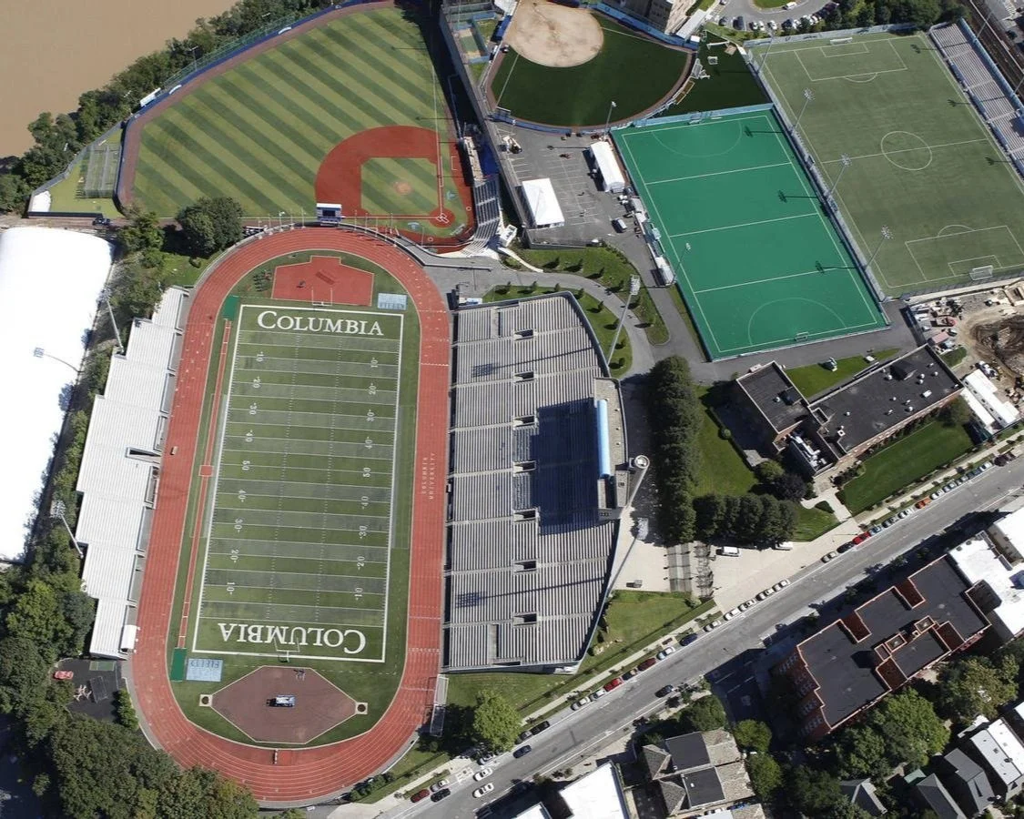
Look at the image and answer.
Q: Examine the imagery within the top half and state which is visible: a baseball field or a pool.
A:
baseball field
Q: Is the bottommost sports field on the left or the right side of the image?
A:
left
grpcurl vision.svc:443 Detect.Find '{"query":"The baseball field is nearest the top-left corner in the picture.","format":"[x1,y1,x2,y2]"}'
[117,0,477,252]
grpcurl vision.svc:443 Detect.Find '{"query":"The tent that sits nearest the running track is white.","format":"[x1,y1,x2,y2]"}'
[521,178,564,231]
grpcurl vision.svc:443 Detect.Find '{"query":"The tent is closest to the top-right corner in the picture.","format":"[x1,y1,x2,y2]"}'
[589,142,624,196]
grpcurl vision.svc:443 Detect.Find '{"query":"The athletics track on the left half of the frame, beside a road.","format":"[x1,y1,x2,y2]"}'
[129,228,451,802]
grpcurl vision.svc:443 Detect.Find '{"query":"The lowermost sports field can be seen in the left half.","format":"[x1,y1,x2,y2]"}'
[168,249,421,749]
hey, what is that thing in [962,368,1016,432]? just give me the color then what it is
white trailer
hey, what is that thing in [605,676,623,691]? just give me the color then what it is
red car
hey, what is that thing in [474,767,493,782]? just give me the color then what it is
white car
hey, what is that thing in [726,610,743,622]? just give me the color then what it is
white vehicle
